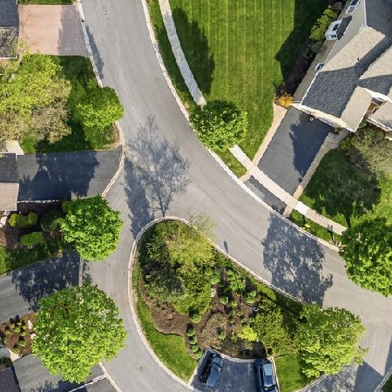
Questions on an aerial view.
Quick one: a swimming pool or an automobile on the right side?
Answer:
automobile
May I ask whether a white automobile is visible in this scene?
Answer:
No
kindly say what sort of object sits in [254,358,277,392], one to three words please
car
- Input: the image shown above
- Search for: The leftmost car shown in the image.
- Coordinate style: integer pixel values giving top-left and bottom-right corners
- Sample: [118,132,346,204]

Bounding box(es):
[197,350,223,387]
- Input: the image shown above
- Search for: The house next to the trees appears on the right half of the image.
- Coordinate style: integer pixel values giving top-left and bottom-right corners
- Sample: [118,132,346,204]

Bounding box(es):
[292,0,392,134]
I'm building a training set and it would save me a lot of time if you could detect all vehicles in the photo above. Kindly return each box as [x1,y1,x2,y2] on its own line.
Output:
[197,350,223,387]
[254,358,277,392]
